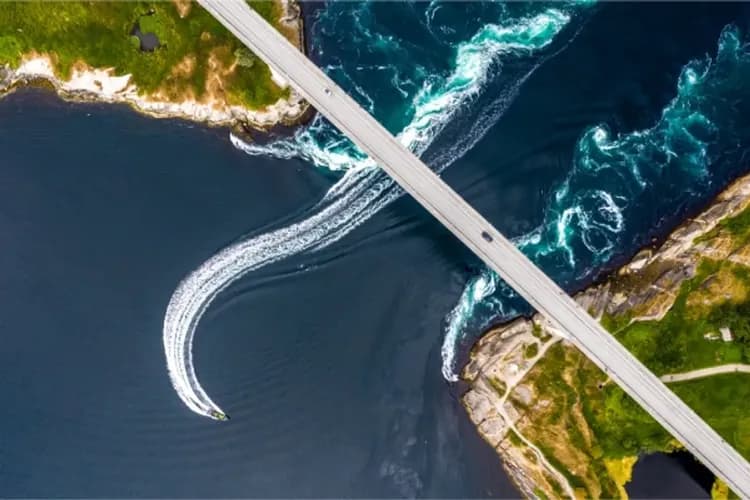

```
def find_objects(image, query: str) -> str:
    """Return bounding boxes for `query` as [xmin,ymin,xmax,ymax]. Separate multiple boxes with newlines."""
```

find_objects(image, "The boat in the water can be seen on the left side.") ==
[208,406,230,421]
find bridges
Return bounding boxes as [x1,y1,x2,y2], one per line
[196,0,750,500]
